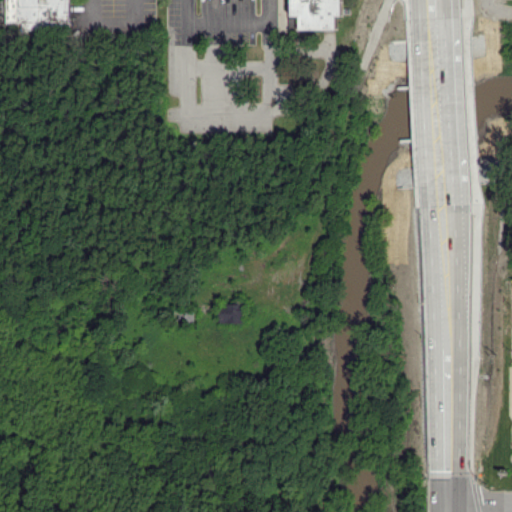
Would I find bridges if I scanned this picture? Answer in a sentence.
Yes, the frame does contain a bridge.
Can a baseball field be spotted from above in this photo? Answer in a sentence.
No, there isn't any baseball field down there.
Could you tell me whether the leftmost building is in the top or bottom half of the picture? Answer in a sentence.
It is in the top half that the leftmost building appears.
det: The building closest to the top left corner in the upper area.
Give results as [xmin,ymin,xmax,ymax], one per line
[4,0,69,32]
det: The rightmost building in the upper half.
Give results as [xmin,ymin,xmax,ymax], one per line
[288,0,343,32]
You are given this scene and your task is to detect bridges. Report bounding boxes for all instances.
[398,18,485,207]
